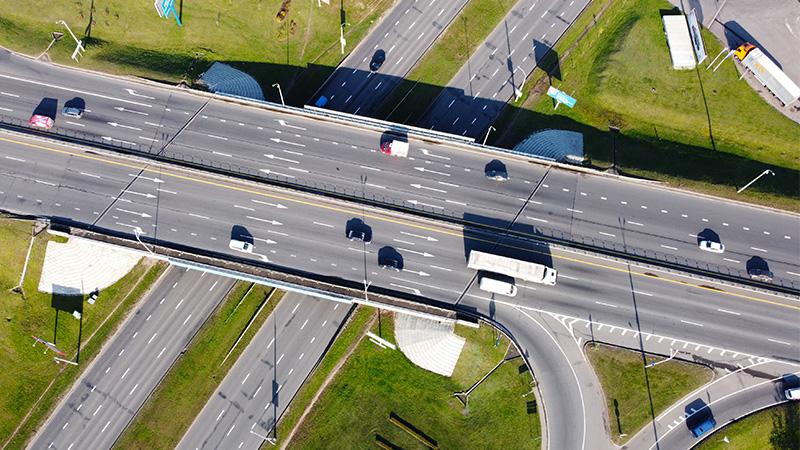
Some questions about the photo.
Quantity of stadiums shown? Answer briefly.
0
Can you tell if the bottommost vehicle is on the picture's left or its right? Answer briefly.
right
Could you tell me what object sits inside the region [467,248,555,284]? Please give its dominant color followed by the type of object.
white truck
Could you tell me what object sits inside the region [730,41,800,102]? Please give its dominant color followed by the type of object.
white truck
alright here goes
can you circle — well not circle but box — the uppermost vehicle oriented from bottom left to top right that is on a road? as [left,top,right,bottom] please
[369,51,387,70]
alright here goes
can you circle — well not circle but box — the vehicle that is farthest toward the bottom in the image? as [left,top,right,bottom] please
[687,413,715,433]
